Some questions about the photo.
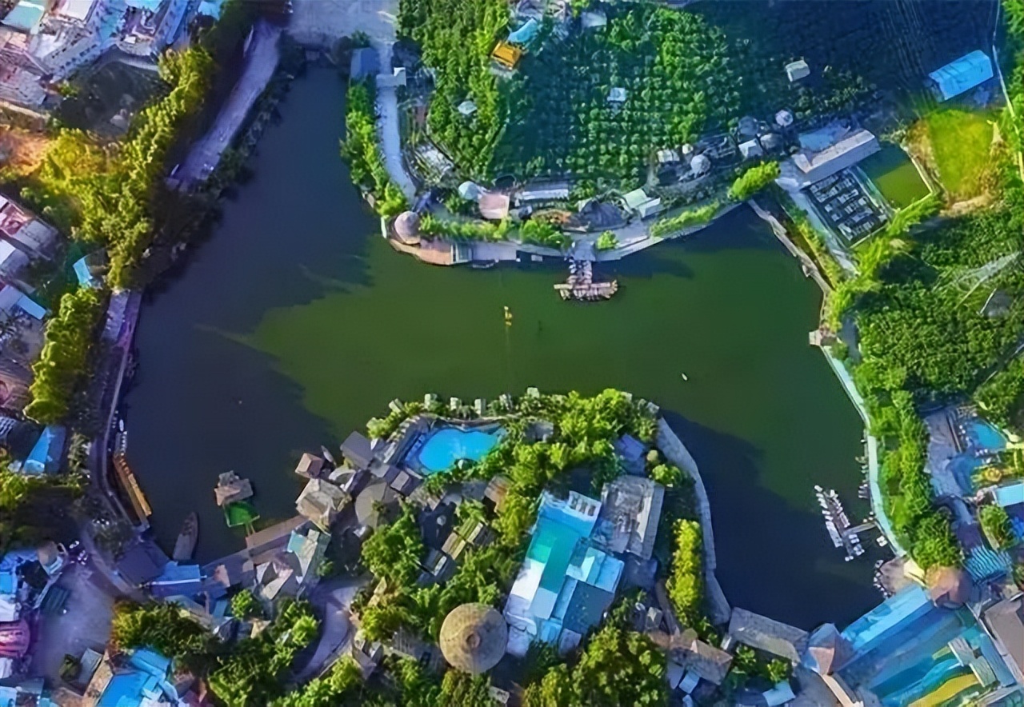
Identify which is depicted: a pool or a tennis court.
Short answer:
pool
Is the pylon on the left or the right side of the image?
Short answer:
right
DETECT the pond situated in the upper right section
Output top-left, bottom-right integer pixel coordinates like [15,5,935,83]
[859,143,936,209]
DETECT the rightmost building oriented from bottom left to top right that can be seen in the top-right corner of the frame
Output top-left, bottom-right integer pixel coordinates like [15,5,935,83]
[922,50,993,110]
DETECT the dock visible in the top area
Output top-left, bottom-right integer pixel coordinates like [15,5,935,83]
[554,261,610,289]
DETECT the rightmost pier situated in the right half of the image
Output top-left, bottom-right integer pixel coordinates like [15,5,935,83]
[825,490,877,565]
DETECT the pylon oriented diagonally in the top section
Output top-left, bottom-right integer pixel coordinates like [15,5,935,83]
[948,250,1024,308]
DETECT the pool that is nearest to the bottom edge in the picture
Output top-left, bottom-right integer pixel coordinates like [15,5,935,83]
[846,603,1003,707]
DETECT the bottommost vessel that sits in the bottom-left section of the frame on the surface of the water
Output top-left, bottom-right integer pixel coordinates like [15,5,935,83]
[169,511,194,562]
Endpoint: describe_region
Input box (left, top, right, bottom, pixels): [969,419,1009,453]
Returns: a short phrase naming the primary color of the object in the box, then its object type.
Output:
blue swimming pool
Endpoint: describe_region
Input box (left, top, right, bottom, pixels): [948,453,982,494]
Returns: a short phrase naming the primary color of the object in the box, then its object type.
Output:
blue swimming pool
